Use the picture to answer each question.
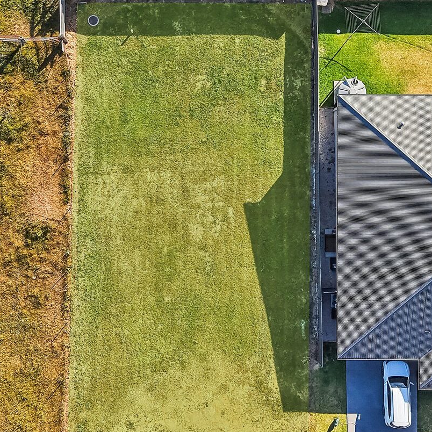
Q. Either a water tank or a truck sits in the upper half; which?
water tank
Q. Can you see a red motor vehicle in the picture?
No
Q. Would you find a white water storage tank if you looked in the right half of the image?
Yes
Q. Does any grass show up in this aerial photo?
Yes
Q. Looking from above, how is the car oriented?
vertically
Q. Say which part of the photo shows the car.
bottom right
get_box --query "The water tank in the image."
[323,76,366,108]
